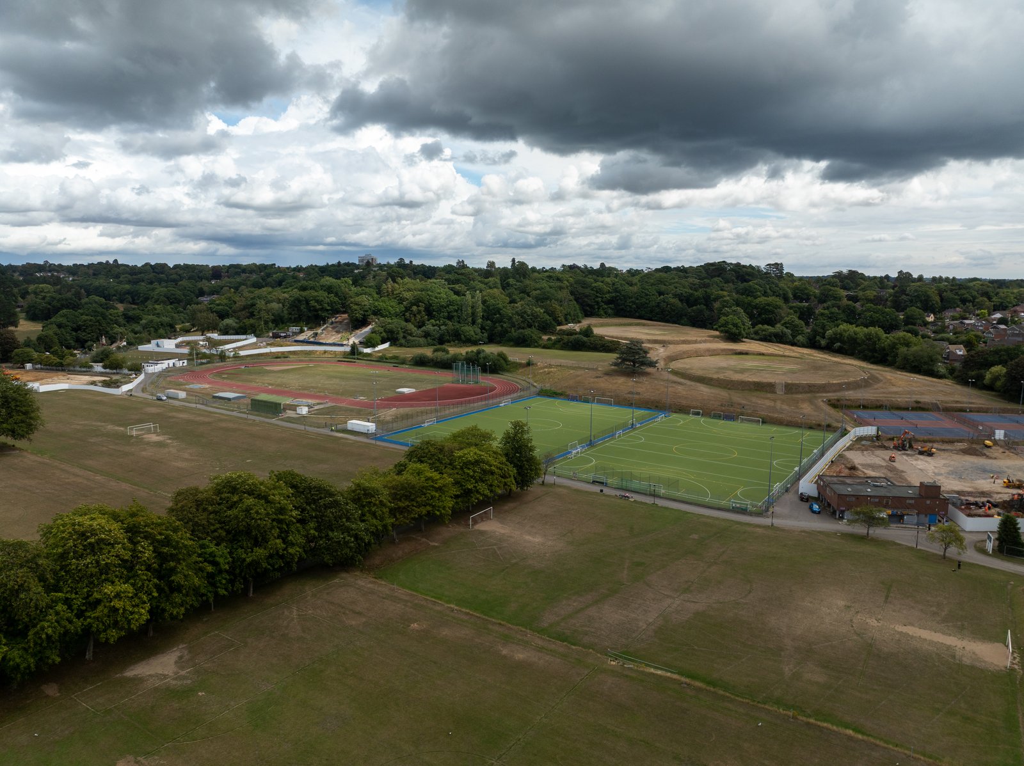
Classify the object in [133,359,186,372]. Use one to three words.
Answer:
building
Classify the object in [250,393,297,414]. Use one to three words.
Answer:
building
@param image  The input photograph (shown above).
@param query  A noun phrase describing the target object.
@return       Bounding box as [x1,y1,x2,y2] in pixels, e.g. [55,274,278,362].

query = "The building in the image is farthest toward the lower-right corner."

[817,475,950,525]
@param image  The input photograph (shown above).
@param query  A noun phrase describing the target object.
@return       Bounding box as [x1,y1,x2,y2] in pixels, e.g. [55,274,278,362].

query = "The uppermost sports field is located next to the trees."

[387,397,664,460]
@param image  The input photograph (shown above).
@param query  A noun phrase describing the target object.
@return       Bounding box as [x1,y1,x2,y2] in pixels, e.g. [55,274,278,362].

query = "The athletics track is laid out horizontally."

[170,360,518,408]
